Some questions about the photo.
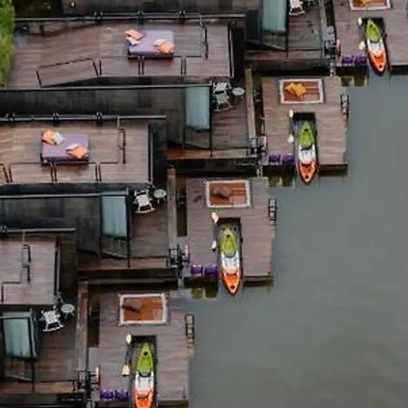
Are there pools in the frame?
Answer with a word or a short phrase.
No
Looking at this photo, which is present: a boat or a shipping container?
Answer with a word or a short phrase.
boat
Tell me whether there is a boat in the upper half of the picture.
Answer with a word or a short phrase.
Yes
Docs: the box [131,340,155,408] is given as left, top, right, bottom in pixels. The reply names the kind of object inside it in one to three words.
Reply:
boat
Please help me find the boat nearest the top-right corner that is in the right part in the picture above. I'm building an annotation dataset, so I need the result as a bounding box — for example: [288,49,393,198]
[365,16,388,78]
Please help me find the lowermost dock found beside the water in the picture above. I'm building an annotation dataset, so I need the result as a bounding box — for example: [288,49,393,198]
[85,290,187,408]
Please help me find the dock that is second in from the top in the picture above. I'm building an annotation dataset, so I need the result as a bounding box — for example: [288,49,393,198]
[255,75,348,175]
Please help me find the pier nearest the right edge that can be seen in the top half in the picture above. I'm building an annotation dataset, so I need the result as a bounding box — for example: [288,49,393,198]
[328,0,408,76]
